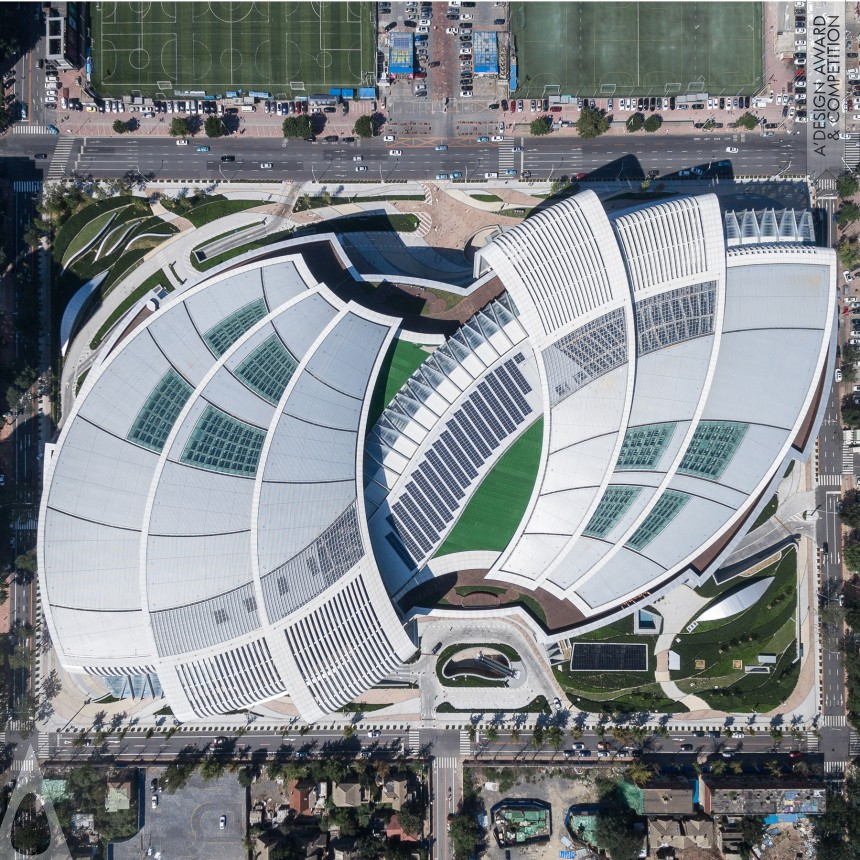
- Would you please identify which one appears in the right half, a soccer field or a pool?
soccer field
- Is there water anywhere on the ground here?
No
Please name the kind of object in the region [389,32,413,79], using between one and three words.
building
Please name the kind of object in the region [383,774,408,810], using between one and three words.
house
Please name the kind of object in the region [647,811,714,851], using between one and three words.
house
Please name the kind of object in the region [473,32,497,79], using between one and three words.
building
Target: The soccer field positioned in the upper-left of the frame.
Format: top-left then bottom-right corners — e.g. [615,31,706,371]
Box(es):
[89,0,376,96]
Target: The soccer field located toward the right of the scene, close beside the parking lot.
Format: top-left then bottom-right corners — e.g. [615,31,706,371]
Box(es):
[509,0,762,96]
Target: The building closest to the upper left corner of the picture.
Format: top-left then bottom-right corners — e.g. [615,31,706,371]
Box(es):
[40,0,79,71]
